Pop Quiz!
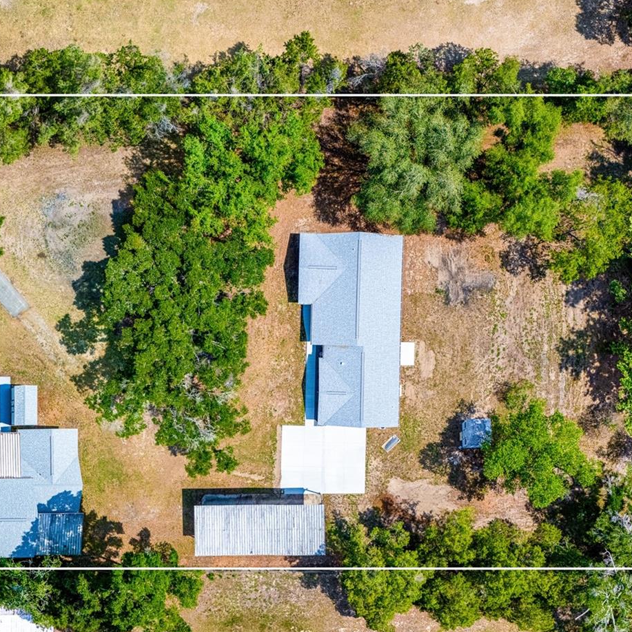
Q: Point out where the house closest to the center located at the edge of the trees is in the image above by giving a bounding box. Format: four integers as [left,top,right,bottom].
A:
[298,233,402,429]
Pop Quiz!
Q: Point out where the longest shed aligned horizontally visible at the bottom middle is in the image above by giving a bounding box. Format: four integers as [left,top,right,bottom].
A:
[195,502,324,556]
